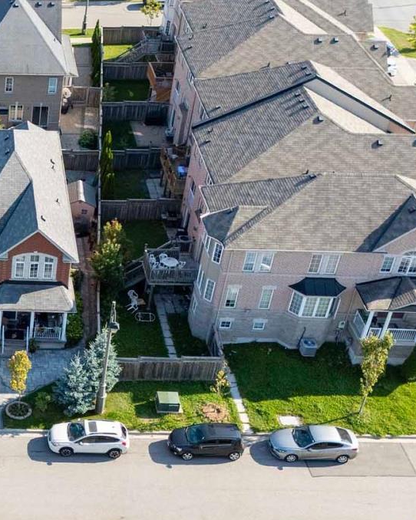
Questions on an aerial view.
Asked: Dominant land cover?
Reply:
buildings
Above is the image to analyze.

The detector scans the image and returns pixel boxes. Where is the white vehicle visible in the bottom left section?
[44,413,133,456]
